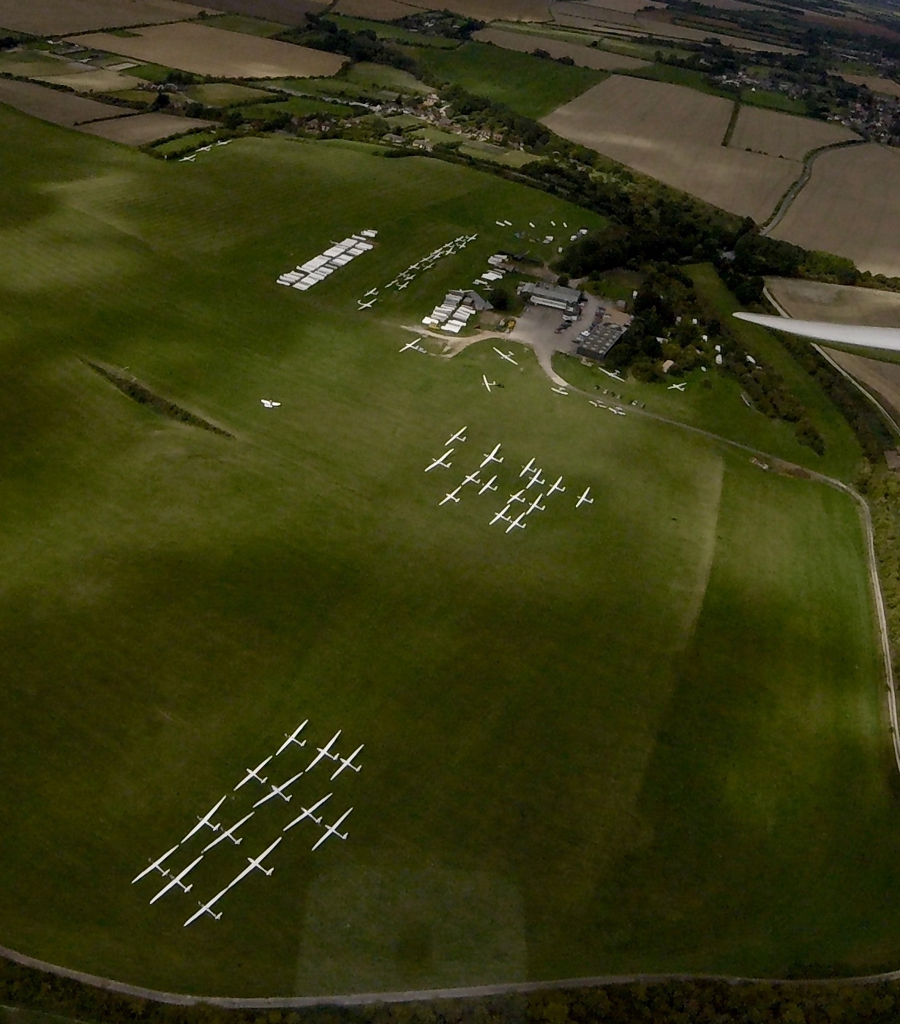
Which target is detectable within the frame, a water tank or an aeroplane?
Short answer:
aeroplane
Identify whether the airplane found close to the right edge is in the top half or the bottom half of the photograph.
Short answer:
top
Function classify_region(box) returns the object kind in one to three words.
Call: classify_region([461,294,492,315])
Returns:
barn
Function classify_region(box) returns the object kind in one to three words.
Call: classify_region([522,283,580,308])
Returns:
building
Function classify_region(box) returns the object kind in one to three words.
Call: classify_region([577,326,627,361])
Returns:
hangar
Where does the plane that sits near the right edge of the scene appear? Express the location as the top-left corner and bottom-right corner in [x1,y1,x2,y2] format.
[733,312,900,351]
